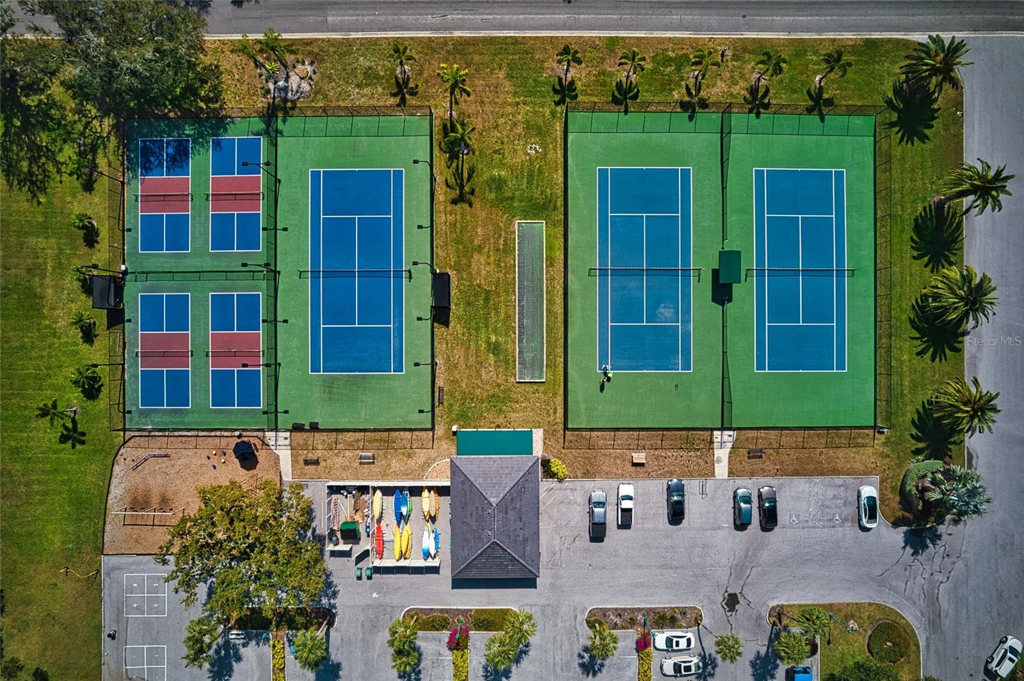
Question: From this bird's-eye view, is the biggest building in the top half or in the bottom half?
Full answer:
The bottom half of the photo is where the biggest building is.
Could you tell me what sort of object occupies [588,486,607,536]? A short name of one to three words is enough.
vehicle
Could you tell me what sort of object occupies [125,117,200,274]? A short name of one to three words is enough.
sports court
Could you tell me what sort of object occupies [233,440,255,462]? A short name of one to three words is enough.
umbrella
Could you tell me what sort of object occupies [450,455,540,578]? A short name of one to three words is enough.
building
